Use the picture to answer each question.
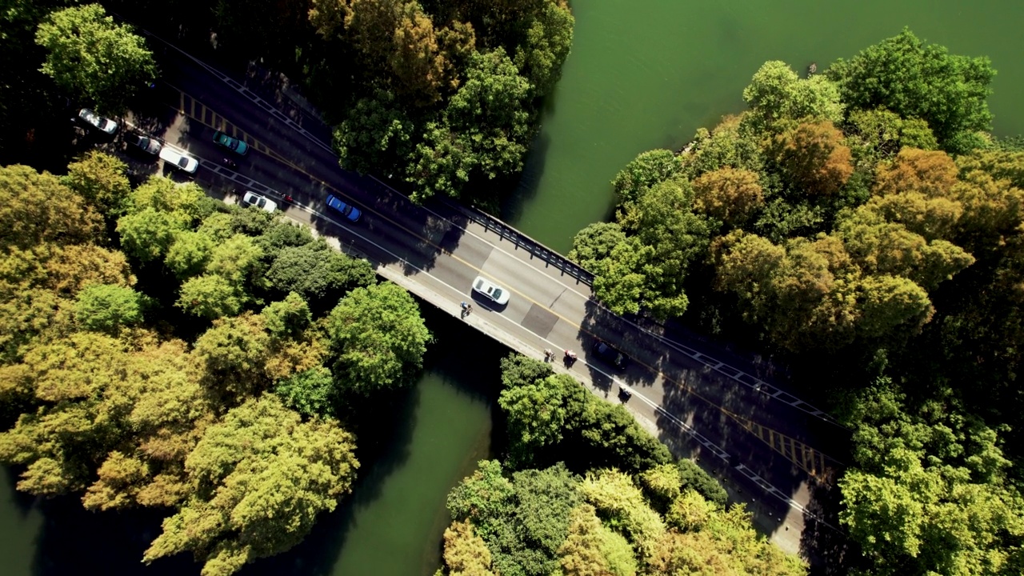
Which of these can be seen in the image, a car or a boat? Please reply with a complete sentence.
The image shows a car.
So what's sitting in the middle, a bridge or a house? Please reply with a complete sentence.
The feature located in the middle is a bridge.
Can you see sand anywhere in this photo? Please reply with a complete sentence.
No, no sand is visible.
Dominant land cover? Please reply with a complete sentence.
The largest share of the image is taken up by trees.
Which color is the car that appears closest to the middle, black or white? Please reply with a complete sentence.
From above, the car that appears closest to the middle appears white.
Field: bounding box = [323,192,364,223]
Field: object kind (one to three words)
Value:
car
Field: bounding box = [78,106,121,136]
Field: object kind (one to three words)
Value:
car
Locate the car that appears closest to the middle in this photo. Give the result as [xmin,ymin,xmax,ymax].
[470,275,511,305]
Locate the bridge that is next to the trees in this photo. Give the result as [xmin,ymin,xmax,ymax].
[377,197,613,378]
